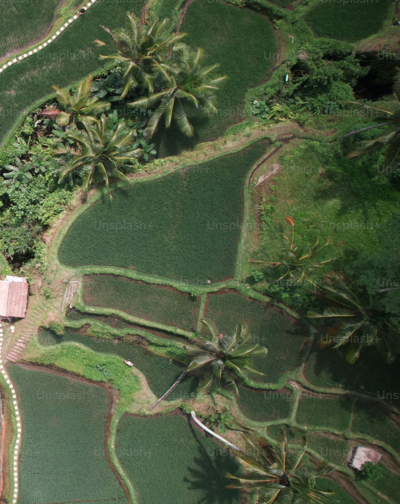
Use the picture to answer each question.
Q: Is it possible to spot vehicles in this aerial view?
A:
No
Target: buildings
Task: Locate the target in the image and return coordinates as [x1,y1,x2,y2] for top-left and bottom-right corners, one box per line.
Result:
[0,278,29,320]
[343,443,382,472]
